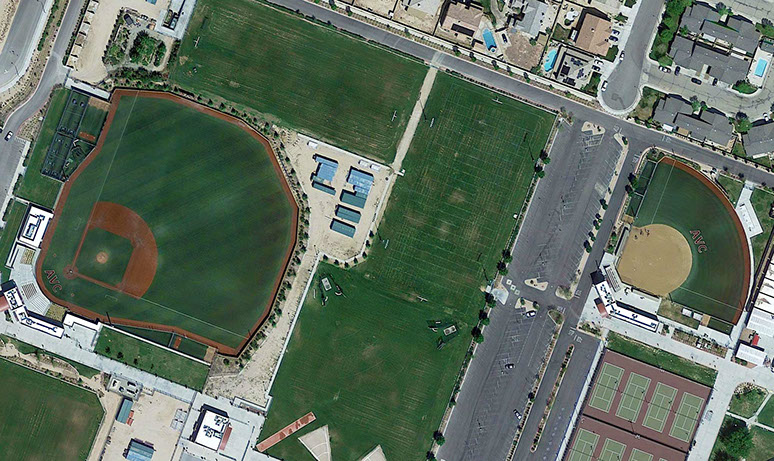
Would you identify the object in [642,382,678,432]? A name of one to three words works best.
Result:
tennis court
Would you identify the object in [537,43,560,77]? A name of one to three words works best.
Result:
swimming pool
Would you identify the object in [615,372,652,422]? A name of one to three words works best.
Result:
tennis court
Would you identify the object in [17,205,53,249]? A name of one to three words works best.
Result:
building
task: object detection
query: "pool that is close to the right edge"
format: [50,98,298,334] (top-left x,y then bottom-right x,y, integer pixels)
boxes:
[747,47,774,88]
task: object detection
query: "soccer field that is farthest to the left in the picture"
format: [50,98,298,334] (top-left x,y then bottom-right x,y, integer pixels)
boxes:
[0,357,106,461]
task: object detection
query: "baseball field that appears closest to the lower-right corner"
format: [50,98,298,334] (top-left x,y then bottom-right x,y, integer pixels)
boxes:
[617,156,751,325]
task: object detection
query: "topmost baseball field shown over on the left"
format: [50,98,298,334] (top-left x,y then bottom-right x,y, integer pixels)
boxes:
[36,90,298,356]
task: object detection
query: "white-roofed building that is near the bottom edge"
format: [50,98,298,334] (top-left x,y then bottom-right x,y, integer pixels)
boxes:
[194,410,228,453]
